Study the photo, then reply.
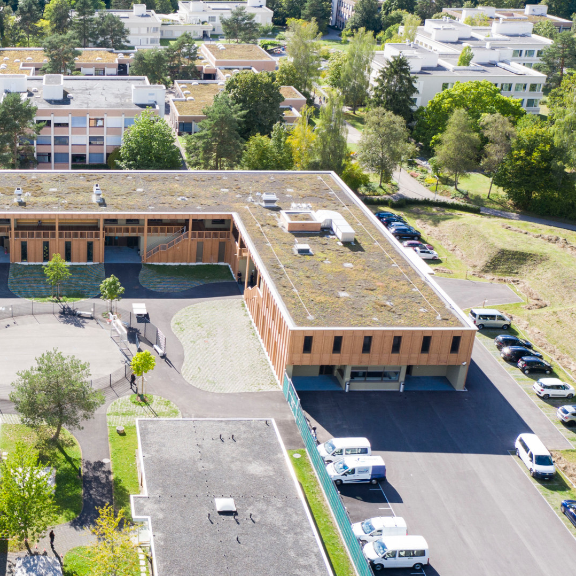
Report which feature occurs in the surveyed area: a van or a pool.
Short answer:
van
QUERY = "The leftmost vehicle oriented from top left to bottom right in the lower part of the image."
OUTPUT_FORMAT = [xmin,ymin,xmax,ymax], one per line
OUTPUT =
[508,435,562,480]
